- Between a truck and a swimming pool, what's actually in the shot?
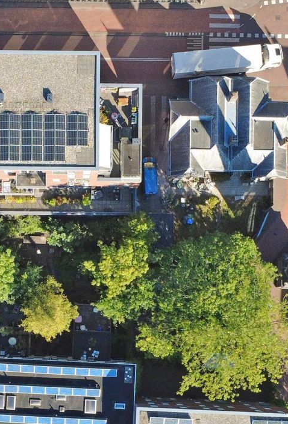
truck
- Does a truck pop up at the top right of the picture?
Yes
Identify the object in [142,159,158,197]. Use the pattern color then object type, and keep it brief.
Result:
blue vehicle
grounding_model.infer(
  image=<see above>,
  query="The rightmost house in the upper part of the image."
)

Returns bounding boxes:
[165,79,288,183]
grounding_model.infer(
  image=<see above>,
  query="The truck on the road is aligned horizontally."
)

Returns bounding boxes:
[171,43,280,79]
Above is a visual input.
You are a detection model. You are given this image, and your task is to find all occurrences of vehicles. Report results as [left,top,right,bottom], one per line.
[142,159,158,197]
[171,43,280,79]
